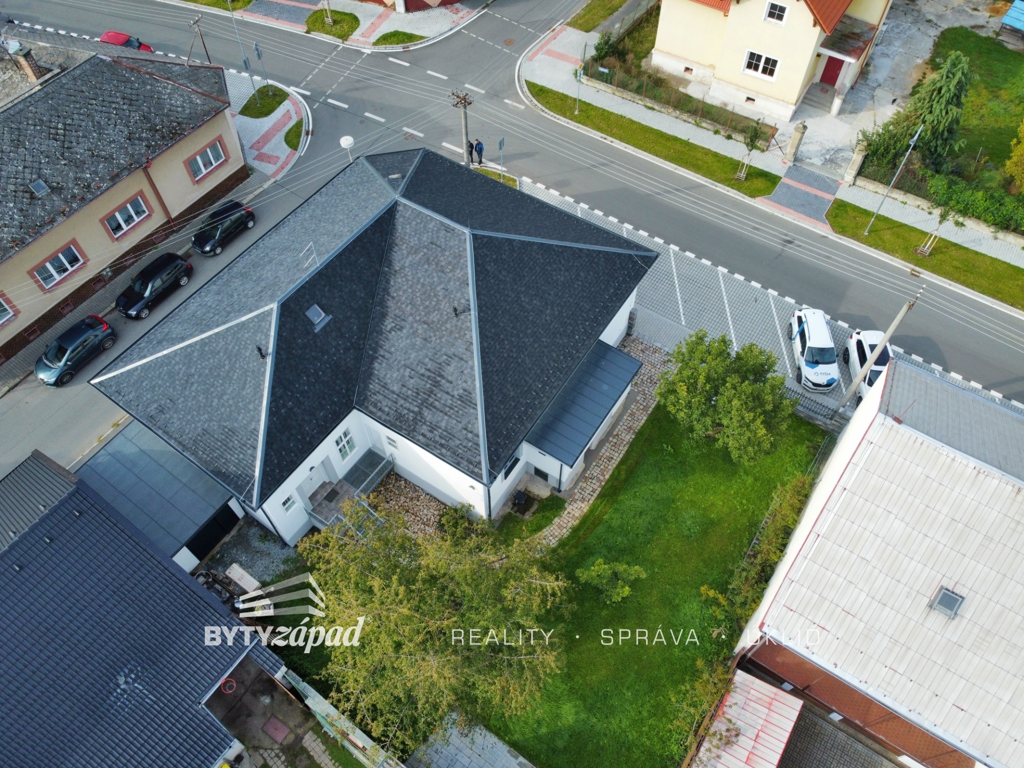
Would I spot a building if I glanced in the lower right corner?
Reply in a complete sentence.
Yes, you'll find a building in the lower right corner.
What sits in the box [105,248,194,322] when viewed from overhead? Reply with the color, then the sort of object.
black car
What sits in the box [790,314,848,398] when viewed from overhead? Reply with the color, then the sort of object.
white car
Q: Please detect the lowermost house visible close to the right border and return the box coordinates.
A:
[737,355,1024,768]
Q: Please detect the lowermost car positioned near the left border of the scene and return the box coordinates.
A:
[23,315,115,391]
